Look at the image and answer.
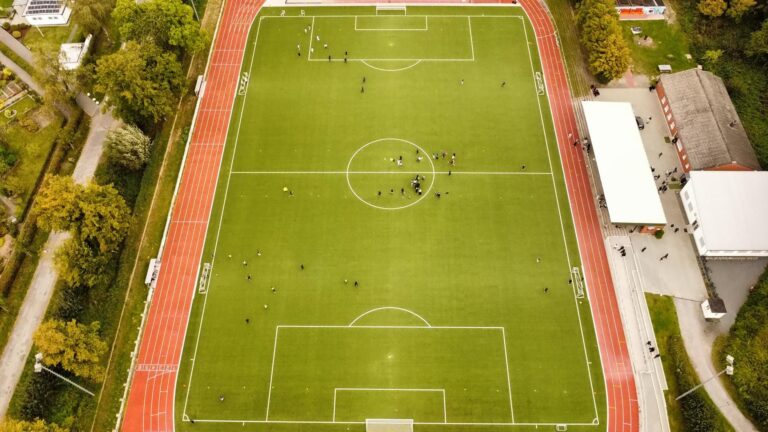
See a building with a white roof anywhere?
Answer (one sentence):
Yes, the picture does show a building with a white roof.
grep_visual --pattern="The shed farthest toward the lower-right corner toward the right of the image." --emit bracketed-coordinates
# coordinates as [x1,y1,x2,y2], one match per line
[700,296,729,322]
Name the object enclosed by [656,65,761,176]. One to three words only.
building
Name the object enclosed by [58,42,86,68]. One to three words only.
building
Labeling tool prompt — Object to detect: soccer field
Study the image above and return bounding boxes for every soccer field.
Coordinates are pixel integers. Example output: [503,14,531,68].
[174,7,607,432]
